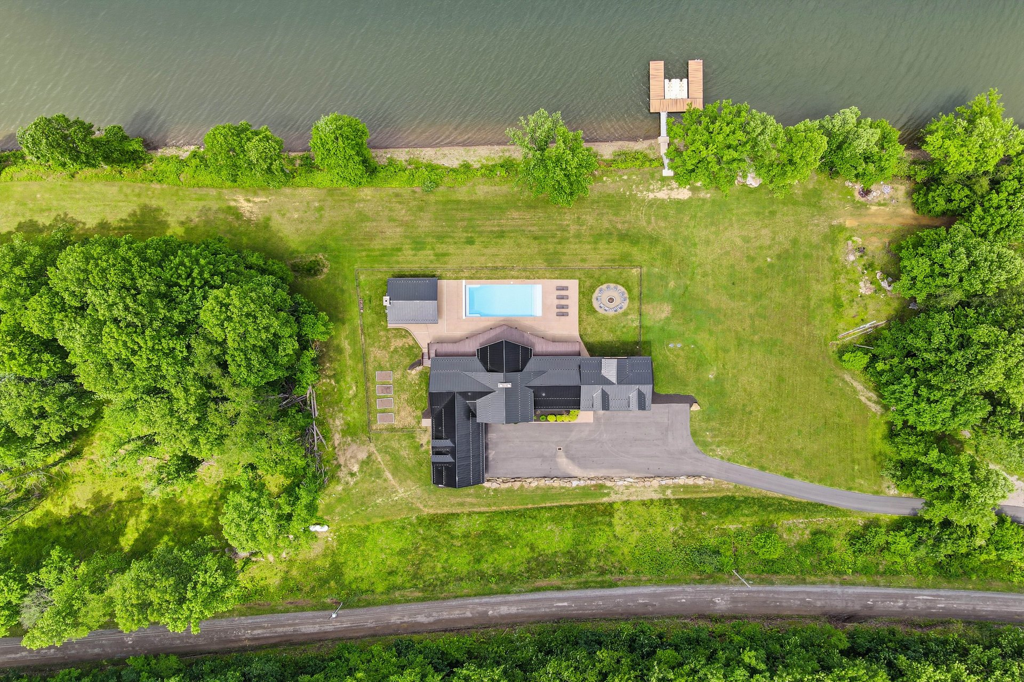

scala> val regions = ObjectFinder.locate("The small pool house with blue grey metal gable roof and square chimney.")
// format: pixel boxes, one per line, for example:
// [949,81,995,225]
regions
[383,278,438,324]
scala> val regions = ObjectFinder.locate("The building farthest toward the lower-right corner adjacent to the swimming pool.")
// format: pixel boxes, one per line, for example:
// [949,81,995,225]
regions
[429,339,653,490]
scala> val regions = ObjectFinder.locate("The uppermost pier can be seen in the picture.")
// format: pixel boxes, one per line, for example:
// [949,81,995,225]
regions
[649,57,703,113]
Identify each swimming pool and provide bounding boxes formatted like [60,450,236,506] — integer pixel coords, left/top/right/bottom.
[462,280,542,319]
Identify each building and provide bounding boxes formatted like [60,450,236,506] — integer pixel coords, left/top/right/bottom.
[429,339,653,490]
[383,278,438,324]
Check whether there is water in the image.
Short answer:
Yes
